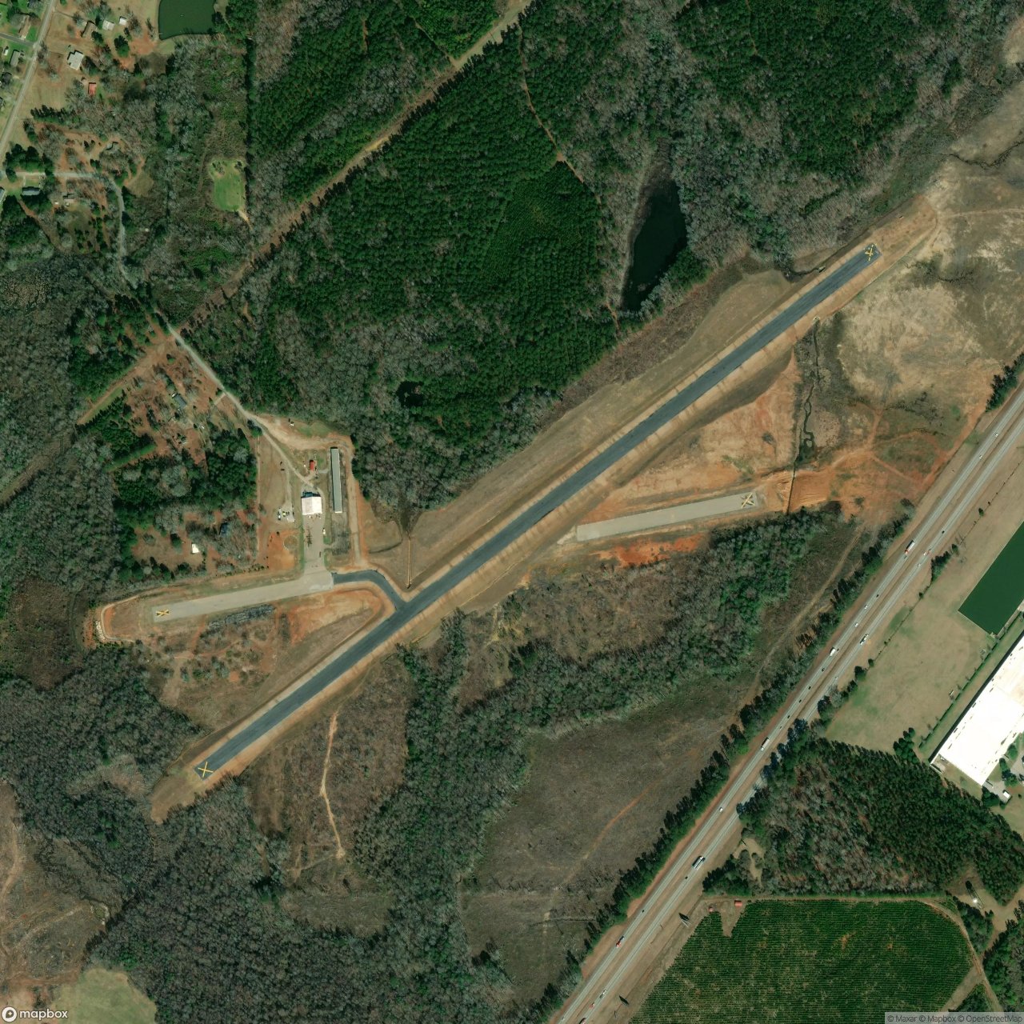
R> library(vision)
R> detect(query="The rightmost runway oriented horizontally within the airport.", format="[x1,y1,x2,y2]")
[577,492,757,541]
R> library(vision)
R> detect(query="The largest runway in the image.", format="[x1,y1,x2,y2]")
[194,245,880,780]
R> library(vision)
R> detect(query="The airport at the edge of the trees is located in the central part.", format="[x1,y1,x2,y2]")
[152,244,880,780]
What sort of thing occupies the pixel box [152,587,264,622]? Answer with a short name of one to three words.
runway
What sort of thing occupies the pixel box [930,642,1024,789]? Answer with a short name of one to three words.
building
